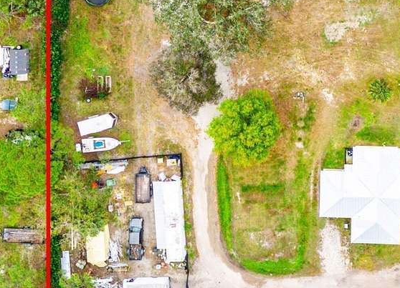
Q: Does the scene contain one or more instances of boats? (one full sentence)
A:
Yes, a boat is visible in the scene.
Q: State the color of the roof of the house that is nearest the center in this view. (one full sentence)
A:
The roof of the house that is nearest the center is white.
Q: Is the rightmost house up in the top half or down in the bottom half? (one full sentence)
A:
You can find the rightmost house in the bottom half.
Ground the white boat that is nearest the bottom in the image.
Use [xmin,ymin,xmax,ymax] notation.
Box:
[73,136,128,154]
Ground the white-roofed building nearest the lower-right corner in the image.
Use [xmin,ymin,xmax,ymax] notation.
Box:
[320,146,400,245]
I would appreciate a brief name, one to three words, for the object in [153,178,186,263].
house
